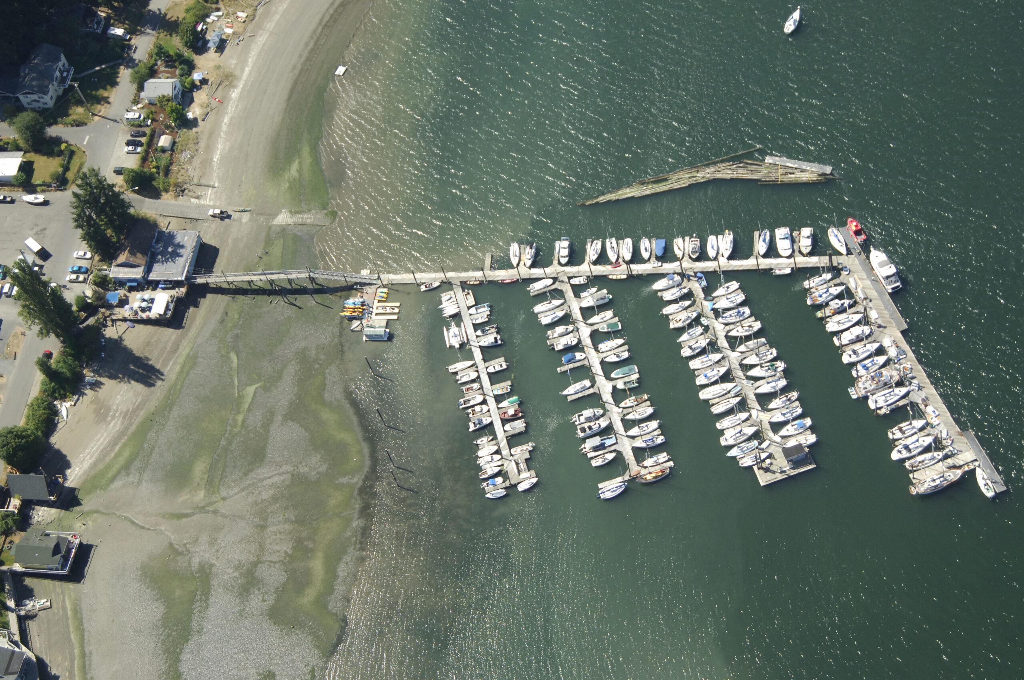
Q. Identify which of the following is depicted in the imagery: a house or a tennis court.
house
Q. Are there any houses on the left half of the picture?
Yes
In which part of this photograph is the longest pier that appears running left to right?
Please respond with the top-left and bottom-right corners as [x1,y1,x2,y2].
[380,231,817,285]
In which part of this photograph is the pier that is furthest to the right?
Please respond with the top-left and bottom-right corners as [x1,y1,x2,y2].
[810,255,976,484]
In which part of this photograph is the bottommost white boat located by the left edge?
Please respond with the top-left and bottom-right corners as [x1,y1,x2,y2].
[19,194,48,208]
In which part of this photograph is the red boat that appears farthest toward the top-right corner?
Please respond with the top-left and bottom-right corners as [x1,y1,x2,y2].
[848,215,868,243]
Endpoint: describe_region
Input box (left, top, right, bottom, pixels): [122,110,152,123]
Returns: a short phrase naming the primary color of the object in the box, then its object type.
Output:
white vehicle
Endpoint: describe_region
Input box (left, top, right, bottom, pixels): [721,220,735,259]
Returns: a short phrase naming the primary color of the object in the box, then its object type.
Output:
white boat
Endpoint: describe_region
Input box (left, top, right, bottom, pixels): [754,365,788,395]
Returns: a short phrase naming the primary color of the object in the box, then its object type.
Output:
white boat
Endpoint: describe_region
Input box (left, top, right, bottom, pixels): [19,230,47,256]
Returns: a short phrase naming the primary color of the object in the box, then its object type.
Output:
white truck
